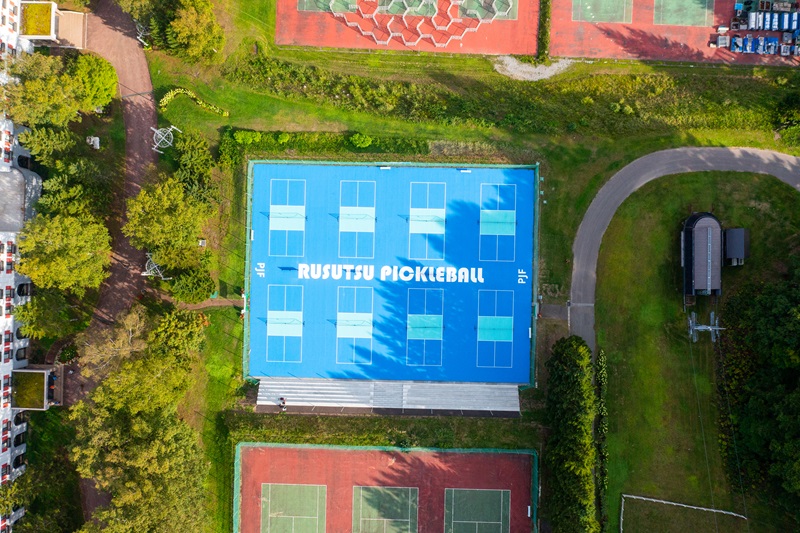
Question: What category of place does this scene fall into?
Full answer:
The area seen from above is a sports ground.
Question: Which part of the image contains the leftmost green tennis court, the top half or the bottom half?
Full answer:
You can find the leftmost green tennis court in the bottom half.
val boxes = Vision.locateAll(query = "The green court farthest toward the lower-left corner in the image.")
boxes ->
[260,484,325,533]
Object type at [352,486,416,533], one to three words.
tennis court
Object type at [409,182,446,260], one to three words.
sports court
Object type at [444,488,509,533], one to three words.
tennis court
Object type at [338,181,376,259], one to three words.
sports court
